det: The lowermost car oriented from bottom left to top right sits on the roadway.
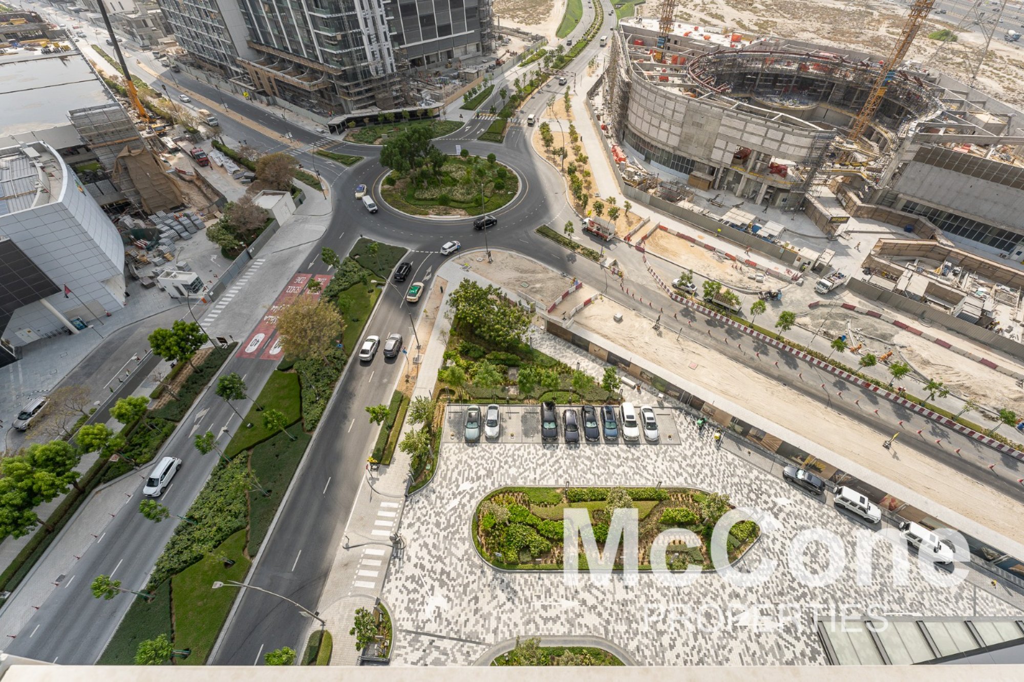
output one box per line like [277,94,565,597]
[141,457,185,500]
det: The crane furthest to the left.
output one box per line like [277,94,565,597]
[89,0,172,135]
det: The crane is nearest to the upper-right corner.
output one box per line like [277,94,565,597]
[836,0,941,135]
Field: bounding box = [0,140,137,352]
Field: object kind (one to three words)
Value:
building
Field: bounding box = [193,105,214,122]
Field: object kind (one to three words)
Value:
vehicle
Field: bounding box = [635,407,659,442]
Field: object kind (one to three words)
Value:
car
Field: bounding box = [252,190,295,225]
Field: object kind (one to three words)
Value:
shed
